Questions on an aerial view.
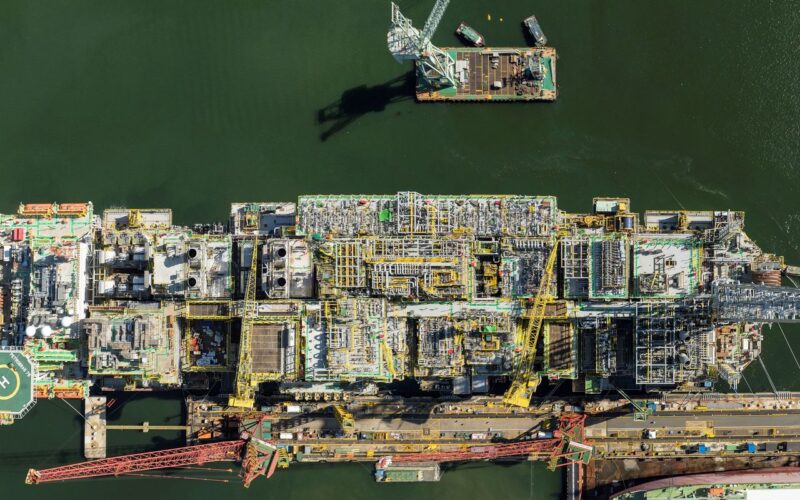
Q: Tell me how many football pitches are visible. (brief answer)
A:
none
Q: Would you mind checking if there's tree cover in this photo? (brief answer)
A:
No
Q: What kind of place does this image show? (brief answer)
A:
port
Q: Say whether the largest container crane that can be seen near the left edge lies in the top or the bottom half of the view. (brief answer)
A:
bottom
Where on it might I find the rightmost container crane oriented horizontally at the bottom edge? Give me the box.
[383,404,601,500]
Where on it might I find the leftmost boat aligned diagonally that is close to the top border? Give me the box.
[455,22,484,47]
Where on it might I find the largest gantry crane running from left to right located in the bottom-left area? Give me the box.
[21,415,282,490]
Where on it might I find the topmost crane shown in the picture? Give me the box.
[389,0,457,95]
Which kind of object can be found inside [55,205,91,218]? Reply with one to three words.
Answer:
boat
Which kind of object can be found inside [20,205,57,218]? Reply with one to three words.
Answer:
boat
